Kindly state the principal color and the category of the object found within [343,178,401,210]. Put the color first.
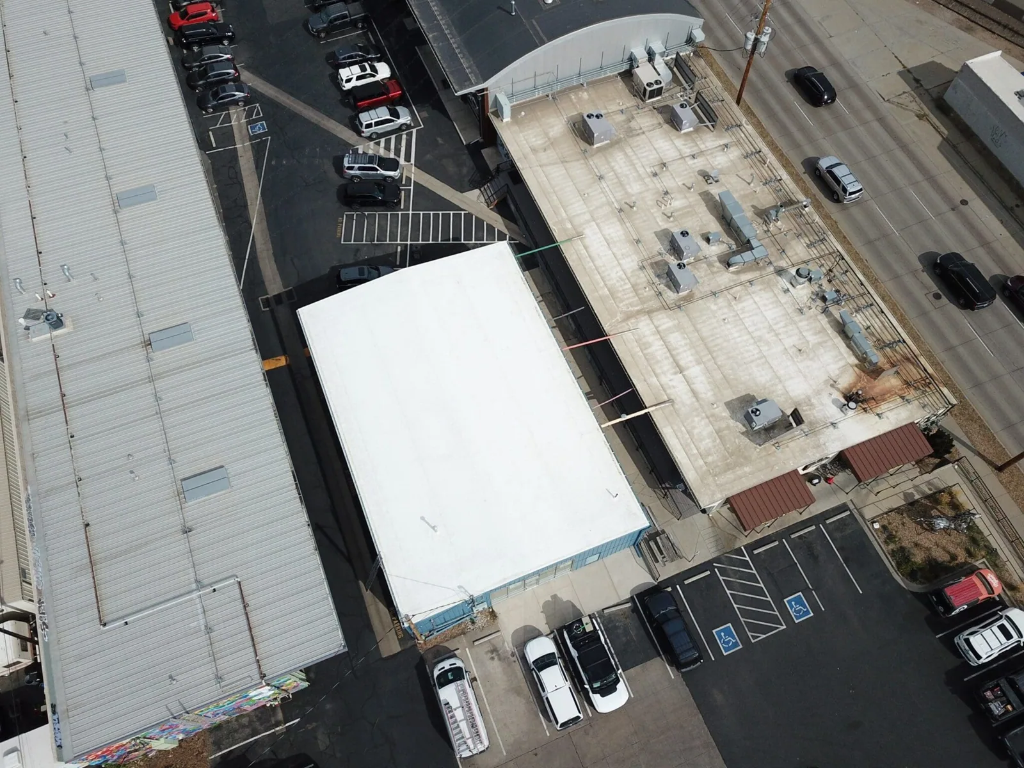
black car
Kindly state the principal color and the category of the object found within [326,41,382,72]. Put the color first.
black car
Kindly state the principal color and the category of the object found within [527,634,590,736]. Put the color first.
white truck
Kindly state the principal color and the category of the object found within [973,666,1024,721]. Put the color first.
black truck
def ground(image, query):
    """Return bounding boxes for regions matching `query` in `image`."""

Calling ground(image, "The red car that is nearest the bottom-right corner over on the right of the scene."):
[926,569,1005,621]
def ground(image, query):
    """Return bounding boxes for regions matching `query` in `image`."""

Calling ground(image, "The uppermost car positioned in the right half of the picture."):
[791,68,841,108]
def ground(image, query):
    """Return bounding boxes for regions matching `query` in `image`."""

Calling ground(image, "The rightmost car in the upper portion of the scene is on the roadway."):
[1000,279,1024,320]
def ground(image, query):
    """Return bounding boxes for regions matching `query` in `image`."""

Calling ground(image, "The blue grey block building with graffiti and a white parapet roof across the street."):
[944,46,1024,186]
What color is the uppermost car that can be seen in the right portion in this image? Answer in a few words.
black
